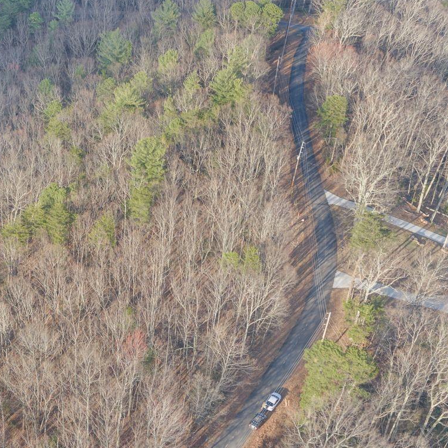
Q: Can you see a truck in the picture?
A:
No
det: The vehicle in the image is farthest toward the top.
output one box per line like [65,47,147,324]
[263,391,279,410]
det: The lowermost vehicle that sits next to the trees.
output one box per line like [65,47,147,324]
[249,411,266,429]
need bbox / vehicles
[249,411,266,429]
[263,391,279,410]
